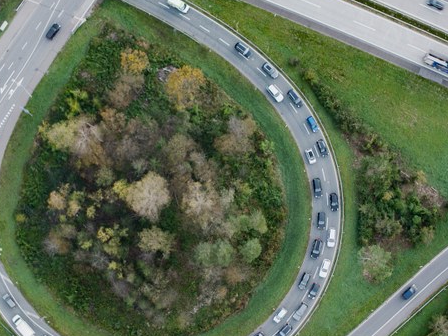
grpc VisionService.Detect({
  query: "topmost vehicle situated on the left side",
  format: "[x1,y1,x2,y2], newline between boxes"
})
[167,0,189,13]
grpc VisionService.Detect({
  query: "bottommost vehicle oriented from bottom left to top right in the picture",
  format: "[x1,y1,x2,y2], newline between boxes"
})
[274,322,292,336]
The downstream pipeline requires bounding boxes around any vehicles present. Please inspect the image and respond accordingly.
[424,0,445,12]
[261,61,279,80]
[274,322,292,336]
[167,0,189,13]
[1,291,17,311]
[306,115,319,134]
[10,314,36,336]
[310,238,322,259]
[271,306,289,324]
[312,177,322,198]
[292,302,308,321]
[317,210,325,231]
[318,258,331,278]
[307,281,320,299]
[326,227,336,247]
[266,84,283,103]
[400,283,417,300]
[233,41,253,59]
[316,139,328,157]
[297,271,310,290]
[286,88,303,109]
[329,193,338,211]
[304,147,316,166]
[421,52,448,73]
